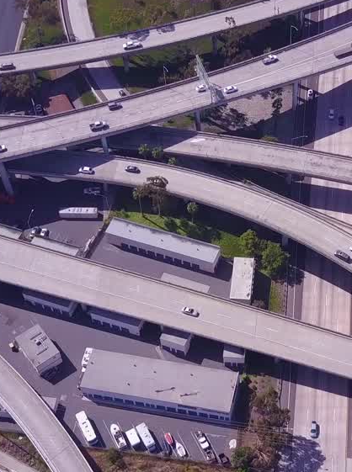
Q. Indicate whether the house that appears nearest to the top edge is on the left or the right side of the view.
left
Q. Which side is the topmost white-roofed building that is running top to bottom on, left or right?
right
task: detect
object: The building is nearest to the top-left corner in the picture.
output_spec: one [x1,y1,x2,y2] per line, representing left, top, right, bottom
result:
[45,94,76,117]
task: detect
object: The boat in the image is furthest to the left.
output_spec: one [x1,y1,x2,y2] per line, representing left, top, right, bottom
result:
[111,424,126,447]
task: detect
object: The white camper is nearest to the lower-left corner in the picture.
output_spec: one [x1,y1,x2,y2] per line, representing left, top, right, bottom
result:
[75,409,98,444]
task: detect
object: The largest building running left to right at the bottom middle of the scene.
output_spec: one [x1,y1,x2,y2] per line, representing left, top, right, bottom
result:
[81,348,239,416]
